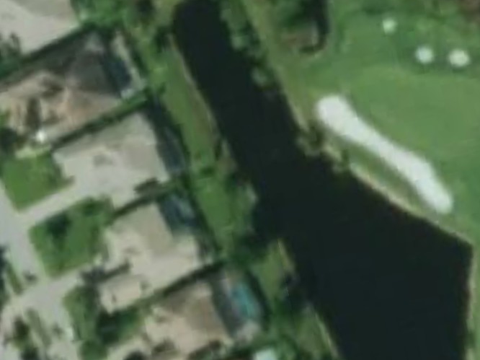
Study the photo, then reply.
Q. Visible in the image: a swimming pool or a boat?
swimming pool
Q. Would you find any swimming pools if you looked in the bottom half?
Yes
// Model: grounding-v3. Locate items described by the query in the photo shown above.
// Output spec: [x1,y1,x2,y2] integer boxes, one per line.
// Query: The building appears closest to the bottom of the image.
[144,288,232,360]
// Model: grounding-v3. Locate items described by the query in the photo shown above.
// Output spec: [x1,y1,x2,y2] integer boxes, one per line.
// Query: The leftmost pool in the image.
[101,36,145,100]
